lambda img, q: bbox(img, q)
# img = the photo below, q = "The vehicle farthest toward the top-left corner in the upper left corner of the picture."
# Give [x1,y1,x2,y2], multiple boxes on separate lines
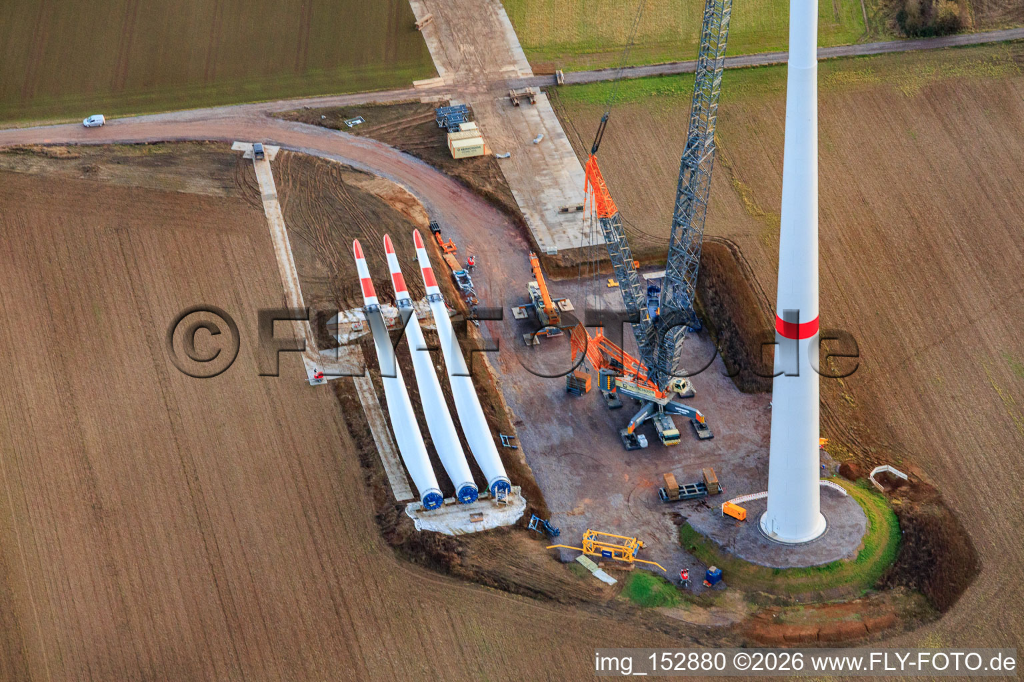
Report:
[82,114,106,128]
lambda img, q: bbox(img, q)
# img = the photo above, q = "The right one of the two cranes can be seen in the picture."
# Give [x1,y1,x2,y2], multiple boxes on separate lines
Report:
[568,0,733,446]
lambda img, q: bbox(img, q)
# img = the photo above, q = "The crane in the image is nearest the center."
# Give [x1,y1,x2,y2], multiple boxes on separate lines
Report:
[520,251,575,341]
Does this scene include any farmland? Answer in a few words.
Yes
